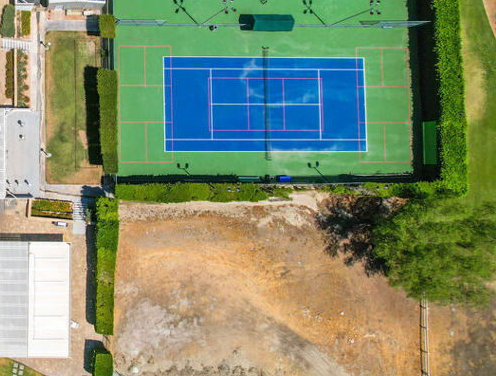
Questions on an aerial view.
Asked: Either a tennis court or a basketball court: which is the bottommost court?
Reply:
tennis court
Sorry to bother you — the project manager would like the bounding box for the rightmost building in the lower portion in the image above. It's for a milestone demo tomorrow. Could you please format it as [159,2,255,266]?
[27,239,70,358]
